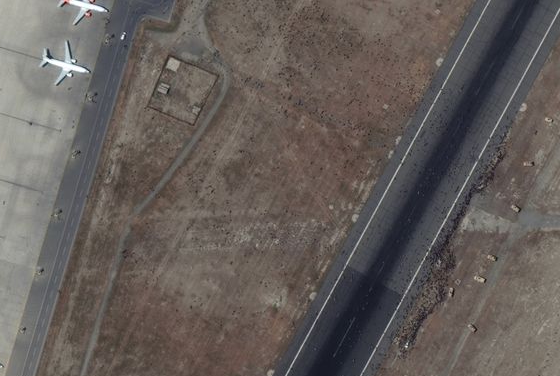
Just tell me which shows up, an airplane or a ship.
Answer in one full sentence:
It is an airplane that can be seen here.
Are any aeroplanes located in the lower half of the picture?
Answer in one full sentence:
No, looking in the lower half of the picture, there is no aeroplane.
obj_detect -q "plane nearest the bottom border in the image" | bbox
[41,42,89,84]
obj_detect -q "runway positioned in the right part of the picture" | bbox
[273,0,560,376]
